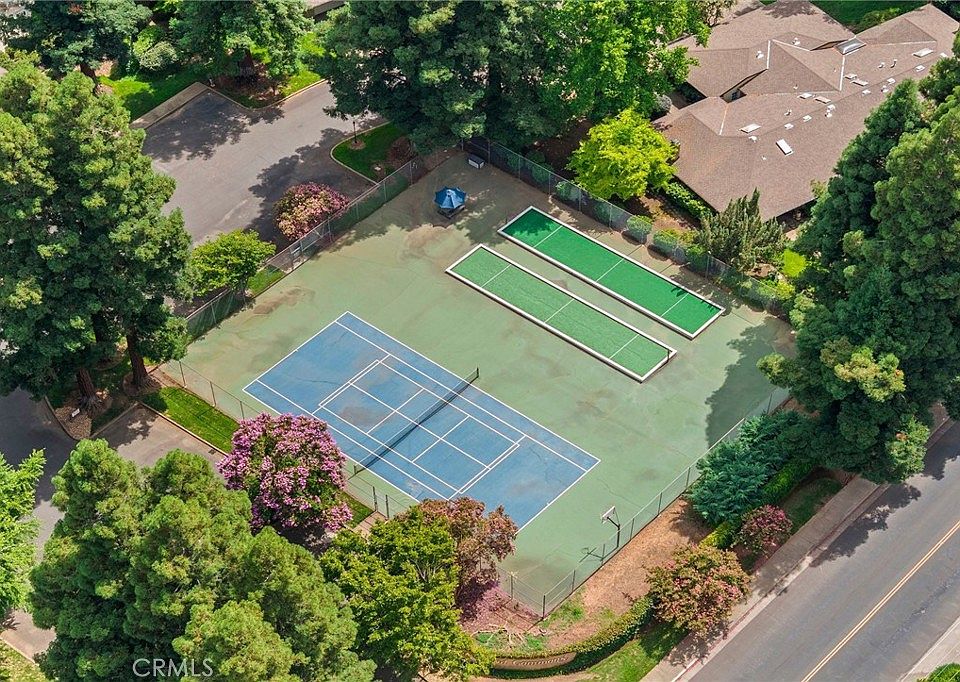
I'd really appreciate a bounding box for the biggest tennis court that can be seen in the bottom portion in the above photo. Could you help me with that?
[243,311,600,553]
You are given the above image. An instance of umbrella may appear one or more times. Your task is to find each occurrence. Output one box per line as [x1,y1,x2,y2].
[433,187,466,207]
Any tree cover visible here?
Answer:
Yes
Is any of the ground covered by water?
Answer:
No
